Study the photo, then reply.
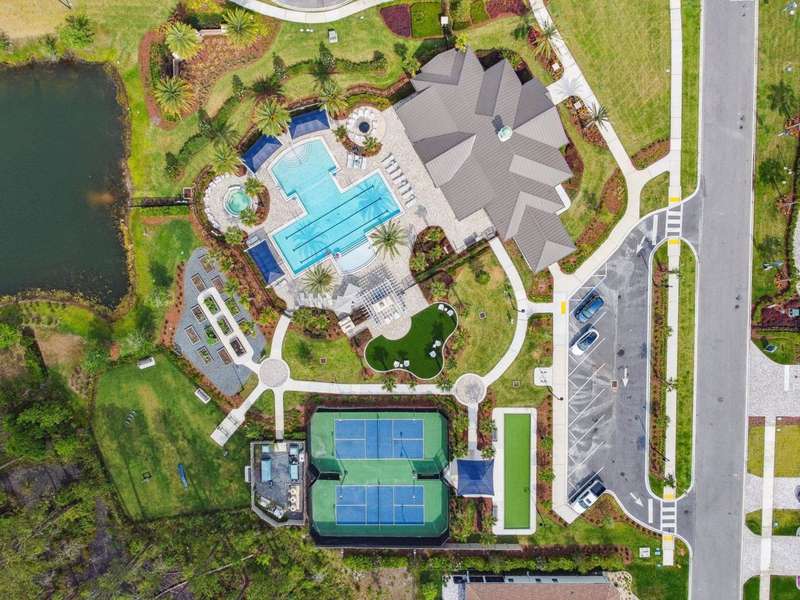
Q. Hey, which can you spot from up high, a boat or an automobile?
automobile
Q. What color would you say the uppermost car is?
blue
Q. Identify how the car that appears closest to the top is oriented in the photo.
at an angle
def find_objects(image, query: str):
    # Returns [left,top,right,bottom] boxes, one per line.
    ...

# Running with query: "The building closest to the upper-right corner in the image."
[393,45,577,272]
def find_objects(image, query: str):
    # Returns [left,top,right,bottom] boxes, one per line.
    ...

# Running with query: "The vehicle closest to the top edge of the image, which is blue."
[576,294,606,323]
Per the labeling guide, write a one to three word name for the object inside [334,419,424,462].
sports court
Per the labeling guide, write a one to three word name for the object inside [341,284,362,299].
umbrella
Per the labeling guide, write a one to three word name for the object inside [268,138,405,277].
swimming pool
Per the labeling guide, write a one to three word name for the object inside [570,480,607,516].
truck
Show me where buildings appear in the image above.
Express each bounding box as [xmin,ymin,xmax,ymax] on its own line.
[393,45,577,272]
[464,569,615,600]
